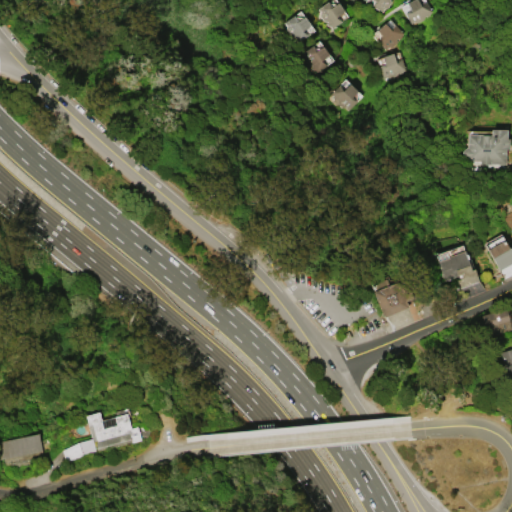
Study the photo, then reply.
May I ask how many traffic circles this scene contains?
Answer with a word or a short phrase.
none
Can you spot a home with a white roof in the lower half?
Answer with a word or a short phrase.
Yes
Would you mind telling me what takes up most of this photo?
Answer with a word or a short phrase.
trees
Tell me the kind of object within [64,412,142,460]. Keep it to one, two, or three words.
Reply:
house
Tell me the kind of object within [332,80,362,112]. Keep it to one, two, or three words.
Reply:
house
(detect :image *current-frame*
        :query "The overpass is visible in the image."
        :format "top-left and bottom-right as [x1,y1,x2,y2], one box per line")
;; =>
[186,416,412,454]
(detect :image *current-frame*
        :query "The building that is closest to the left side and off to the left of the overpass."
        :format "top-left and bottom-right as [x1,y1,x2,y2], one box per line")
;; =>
[1,434,43,466]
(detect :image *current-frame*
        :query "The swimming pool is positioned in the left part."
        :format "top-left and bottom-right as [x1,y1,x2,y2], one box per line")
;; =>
[72,424,91,440]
